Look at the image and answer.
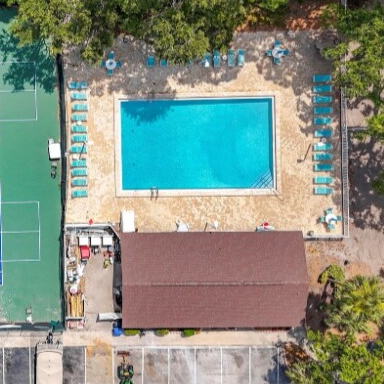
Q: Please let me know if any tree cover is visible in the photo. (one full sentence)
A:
Yes, there's tree cover in this view.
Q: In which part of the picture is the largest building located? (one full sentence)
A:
You can find the largest building in the bottom area of the picture.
